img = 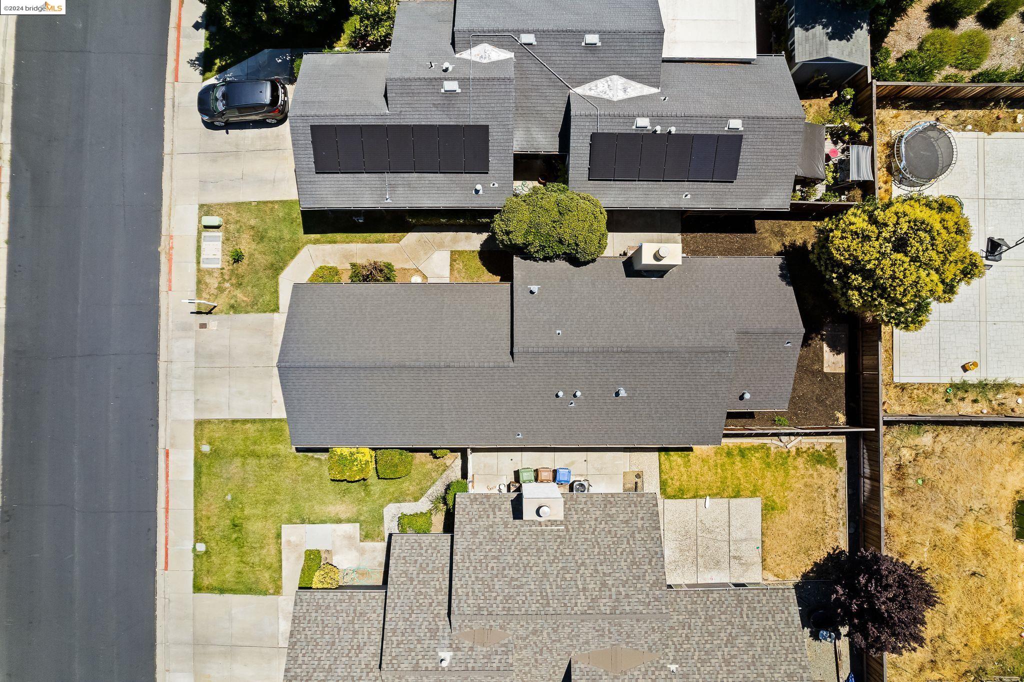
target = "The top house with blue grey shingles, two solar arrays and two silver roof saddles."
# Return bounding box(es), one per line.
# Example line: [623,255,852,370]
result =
[287,0,808,216]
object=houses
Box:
[287,0,808,216]
[278,243,805,449]
[284,479,811,682]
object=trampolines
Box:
[888,120,958,185]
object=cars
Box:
[197,77,292,127]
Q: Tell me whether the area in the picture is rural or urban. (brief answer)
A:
urban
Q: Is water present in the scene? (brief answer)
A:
No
